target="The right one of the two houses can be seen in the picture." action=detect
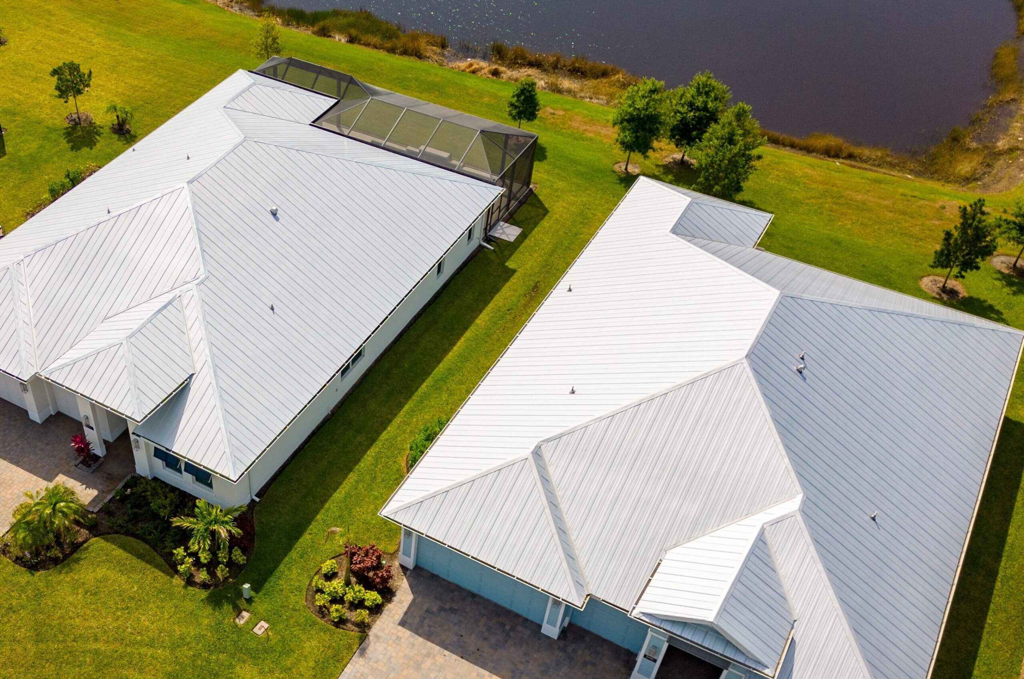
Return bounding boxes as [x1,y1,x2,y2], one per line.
[371,173,1024,679]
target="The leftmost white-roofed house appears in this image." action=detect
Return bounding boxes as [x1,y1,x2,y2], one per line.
[0,68,506,513]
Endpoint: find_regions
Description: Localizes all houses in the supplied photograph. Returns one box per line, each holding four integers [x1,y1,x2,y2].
[0,68,506,513]
[371,173,1024,679]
